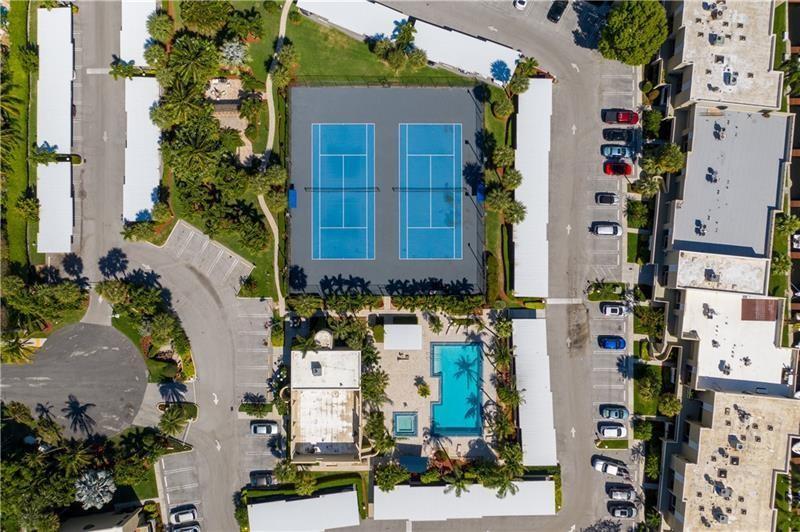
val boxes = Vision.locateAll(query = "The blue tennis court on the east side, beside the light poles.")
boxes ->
[394,123,469,260]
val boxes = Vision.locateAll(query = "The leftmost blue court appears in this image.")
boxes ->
[305,123,380,260]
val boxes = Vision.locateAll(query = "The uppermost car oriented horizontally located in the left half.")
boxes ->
[251,422,279,435]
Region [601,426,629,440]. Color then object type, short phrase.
white car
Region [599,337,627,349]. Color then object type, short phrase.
blue vehicle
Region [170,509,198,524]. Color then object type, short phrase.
white car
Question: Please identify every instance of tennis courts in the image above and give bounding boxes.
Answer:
[394,123,469,260]
[305,123,380,260]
